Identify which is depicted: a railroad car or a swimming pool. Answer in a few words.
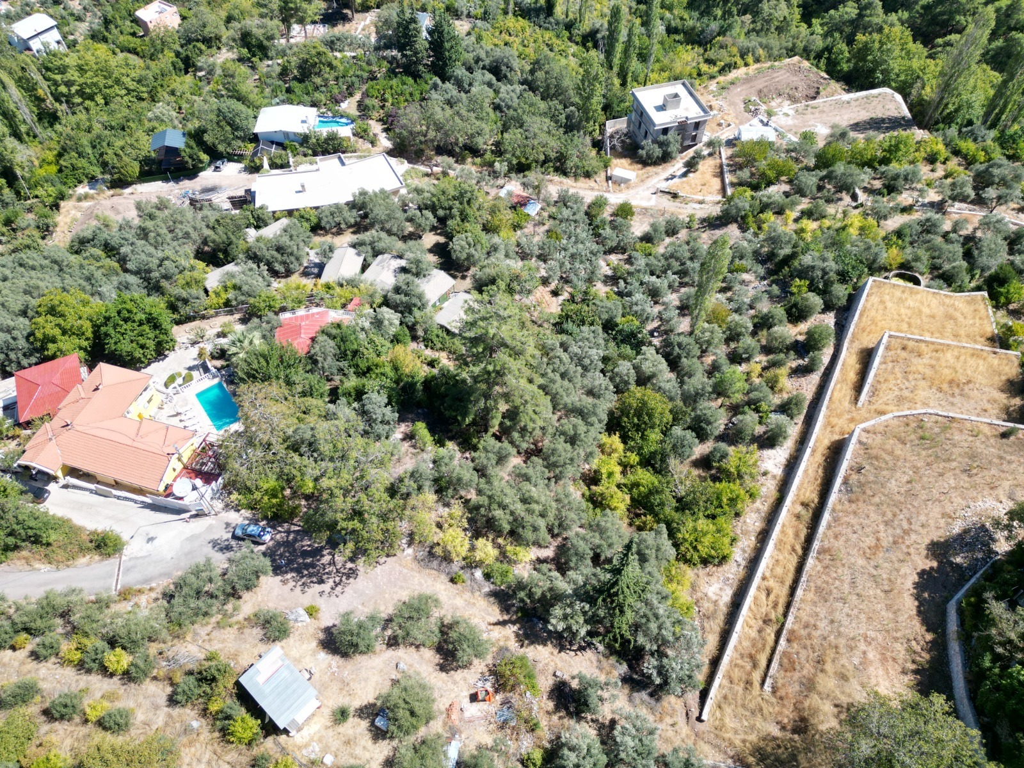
swimming pool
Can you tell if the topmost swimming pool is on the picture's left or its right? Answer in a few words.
left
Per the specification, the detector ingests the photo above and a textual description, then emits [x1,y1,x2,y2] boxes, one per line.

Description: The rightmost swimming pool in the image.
[314,113,358,147]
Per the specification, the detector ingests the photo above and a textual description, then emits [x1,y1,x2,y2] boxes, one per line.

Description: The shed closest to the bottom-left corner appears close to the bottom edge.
[239,645,320,733]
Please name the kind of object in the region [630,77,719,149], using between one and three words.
house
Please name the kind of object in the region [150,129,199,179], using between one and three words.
building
